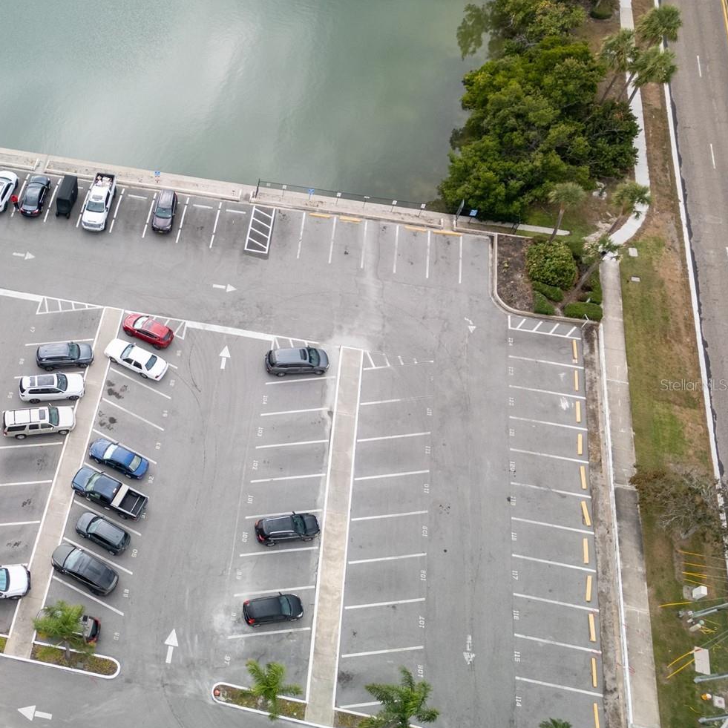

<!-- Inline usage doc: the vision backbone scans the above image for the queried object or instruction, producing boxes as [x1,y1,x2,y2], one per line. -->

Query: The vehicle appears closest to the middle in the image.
[264,345,330,378]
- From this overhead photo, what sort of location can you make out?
parking lot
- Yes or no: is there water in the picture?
Yes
